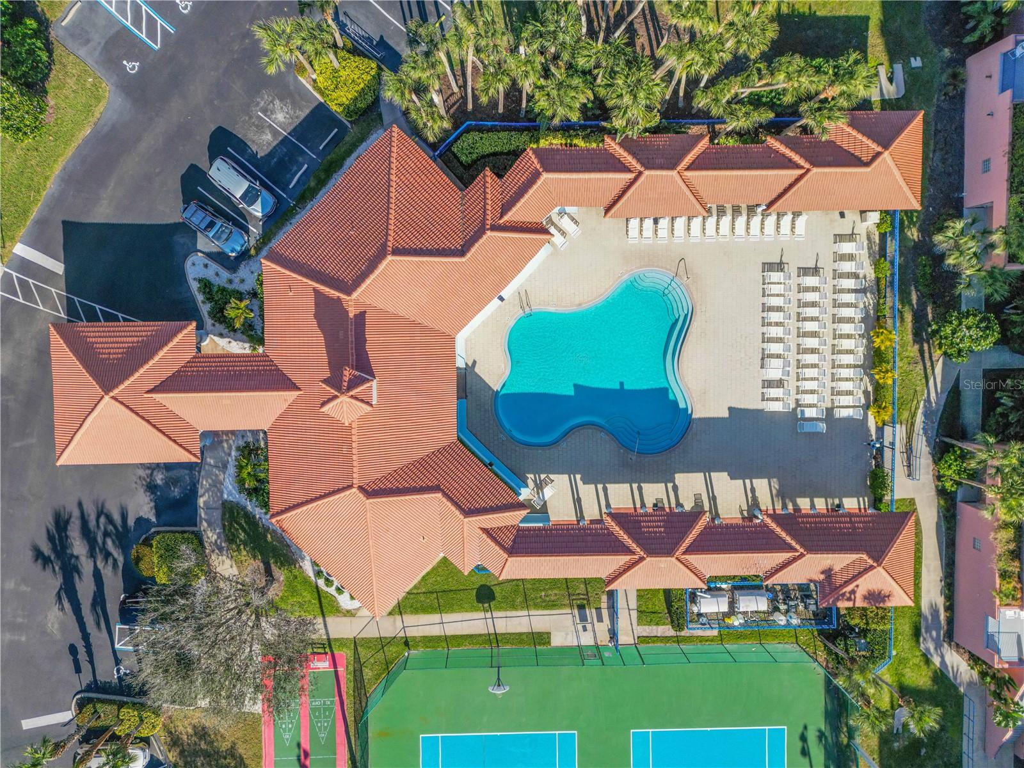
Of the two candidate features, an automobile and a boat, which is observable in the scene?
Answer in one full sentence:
Visible in the photo is an automobile.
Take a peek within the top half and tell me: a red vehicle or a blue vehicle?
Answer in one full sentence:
What appears within the top half is a blue vehicle.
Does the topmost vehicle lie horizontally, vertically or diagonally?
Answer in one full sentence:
The topmost vehicle runs diagonally in the image.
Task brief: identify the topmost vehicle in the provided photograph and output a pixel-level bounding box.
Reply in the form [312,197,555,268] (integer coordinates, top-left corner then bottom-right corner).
[209,157,283,220]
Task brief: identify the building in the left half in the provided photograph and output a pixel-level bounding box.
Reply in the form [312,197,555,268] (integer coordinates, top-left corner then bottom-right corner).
[261,125,554,621]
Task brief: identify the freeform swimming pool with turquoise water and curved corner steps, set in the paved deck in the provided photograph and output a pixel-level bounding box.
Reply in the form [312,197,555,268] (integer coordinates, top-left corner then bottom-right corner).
[489,264,699,459]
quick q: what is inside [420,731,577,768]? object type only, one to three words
tennis court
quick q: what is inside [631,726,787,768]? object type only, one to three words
tennis court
